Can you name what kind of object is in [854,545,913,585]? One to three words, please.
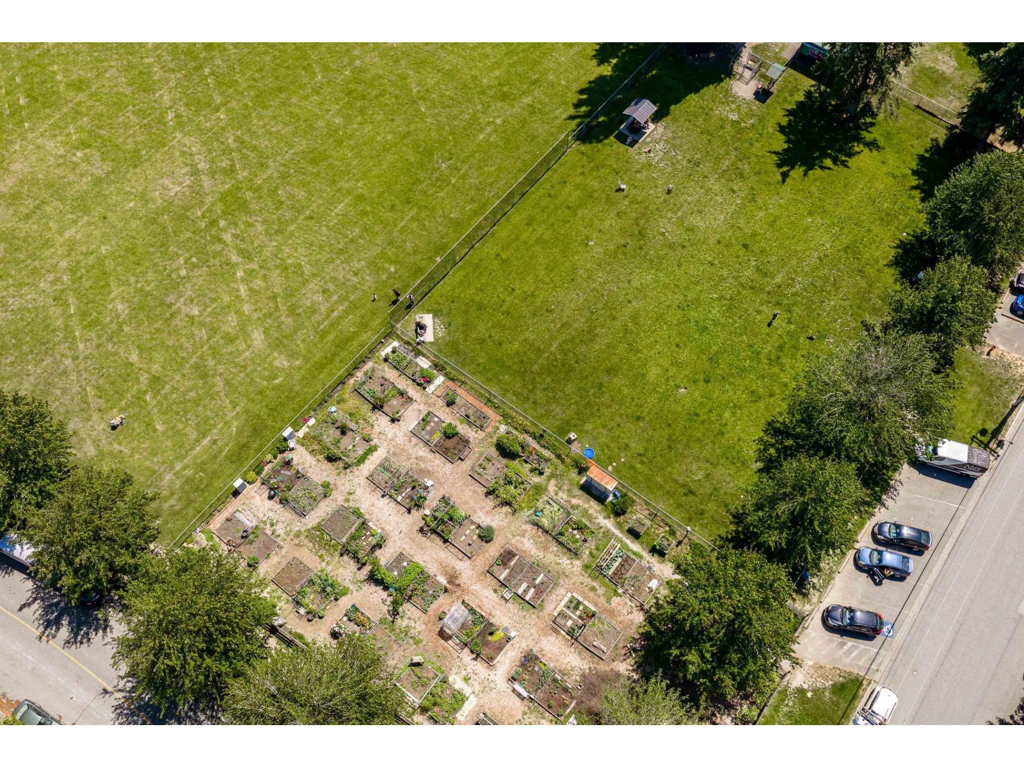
car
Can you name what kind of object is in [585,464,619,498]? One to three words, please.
shed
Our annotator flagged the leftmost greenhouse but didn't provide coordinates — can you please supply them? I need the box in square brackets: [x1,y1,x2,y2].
[437,602,474,643]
